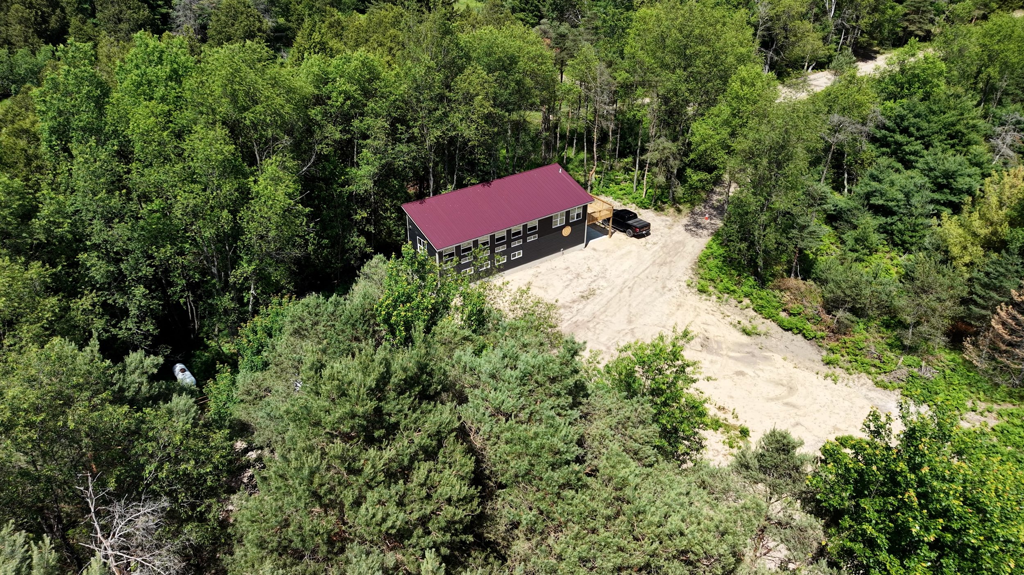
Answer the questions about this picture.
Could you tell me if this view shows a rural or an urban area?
rural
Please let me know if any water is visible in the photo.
No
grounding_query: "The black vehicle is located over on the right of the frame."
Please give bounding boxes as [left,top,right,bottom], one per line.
[605,210,653,237]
